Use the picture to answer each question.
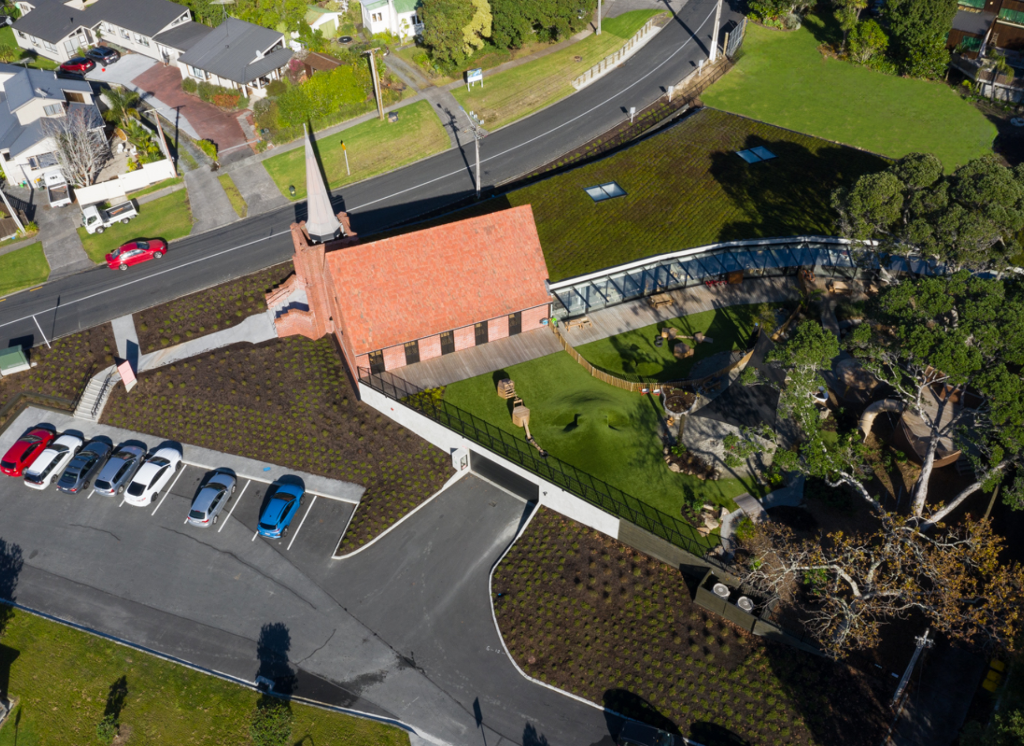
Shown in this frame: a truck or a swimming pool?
truck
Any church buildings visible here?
Yes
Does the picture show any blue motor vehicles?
Yes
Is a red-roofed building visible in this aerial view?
Yes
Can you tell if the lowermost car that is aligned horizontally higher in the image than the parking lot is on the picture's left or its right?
left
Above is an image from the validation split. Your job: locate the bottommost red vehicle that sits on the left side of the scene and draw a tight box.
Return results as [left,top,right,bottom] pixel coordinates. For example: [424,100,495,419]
[0,429,53,480]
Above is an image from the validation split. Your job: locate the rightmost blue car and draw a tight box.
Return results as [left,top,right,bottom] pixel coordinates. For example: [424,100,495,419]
[256,485,306,542]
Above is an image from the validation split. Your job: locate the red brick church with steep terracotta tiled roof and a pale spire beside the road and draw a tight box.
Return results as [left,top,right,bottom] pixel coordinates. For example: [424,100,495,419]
[287,114,555,386]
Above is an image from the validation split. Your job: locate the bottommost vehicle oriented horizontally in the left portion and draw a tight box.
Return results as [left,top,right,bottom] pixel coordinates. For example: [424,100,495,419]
[106,239,167,269]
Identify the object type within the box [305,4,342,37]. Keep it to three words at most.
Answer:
building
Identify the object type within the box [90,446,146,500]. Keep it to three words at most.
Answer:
car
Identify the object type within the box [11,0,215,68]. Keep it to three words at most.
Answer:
house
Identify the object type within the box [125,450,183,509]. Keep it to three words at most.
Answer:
car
